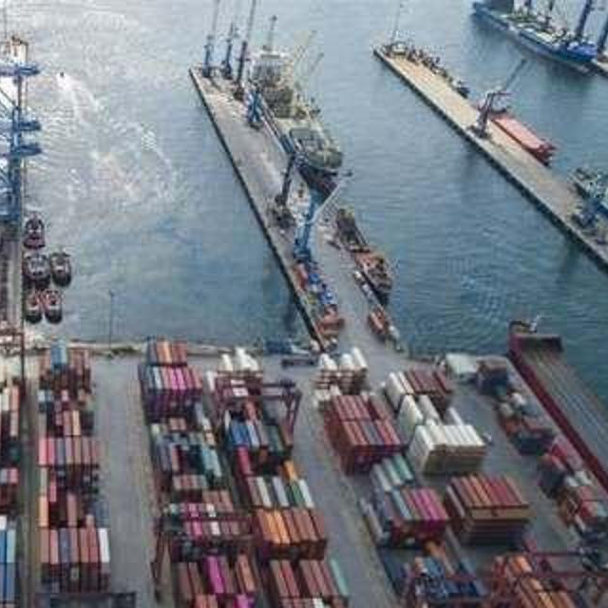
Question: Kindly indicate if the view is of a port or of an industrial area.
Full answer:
This image shows a port.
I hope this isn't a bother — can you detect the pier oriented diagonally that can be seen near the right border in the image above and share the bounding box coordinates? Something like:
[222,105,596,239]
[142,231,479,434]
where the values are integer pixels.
[375,43,608,273]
